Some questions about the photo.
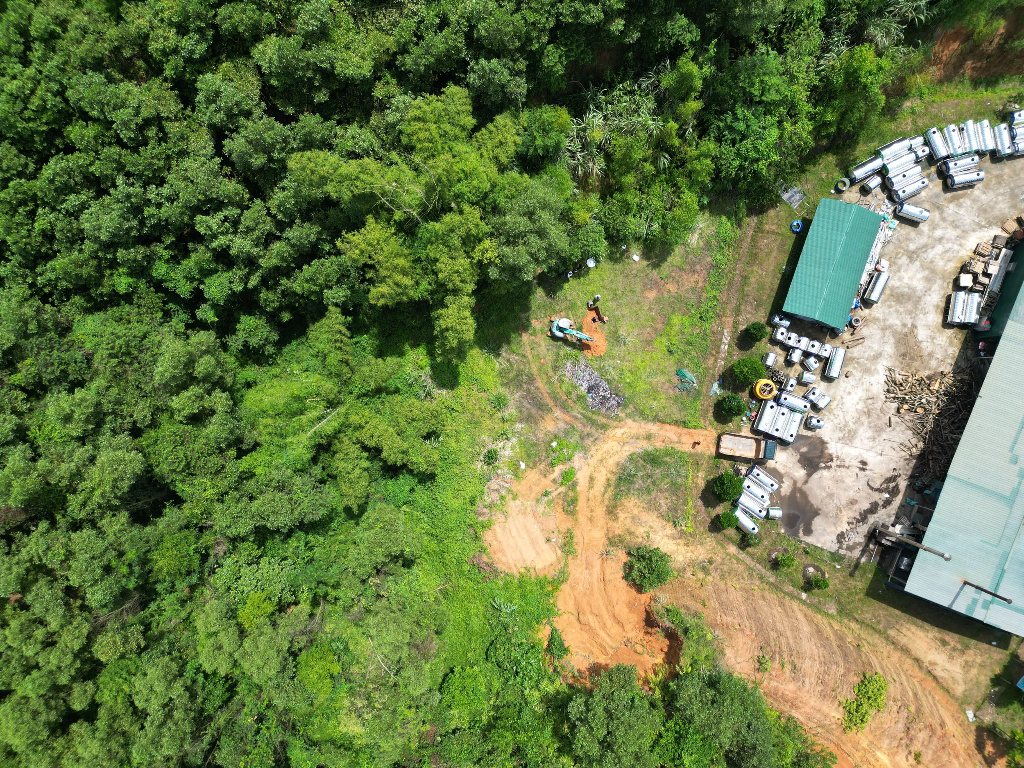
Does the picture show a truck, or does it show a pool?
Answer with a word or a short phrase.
truck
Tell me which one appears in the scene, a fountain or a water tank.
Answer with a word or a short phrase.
water tank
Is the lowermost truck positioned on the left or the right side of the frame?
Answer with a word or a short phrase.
right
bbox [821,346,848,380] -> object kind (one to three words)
water tank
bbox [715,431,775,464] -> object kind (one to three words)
truck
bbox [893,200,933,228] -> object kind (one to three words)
water tank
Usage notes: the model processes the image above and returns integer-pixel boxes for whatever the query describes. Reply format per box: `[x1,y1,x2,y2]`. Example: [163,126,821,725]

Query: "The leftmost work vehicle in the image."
[544,314,601,353]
